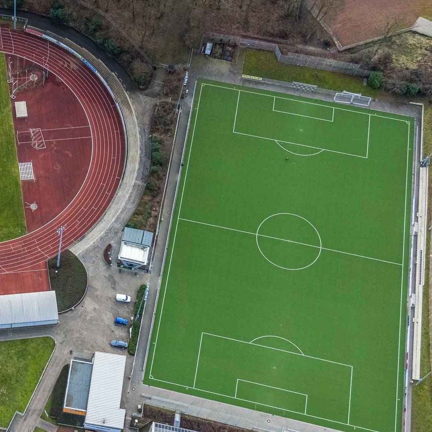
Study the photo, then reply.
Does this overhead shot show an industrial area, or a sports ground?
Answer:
sports ground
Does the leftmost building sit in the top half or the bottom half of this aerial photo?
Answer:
bottom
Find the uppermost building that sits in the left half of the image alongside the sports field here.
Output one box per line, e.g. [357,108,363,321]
[117,227,153,270]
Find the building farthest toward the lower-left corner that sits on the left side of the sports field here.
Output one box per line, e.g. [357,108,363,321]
[63,352,126,432]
